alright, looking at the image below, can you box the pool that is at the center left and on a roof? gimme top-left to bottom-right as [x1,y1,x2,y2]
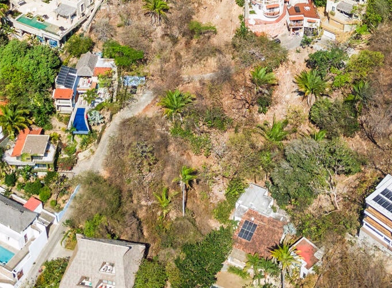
[72,107,90,134]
